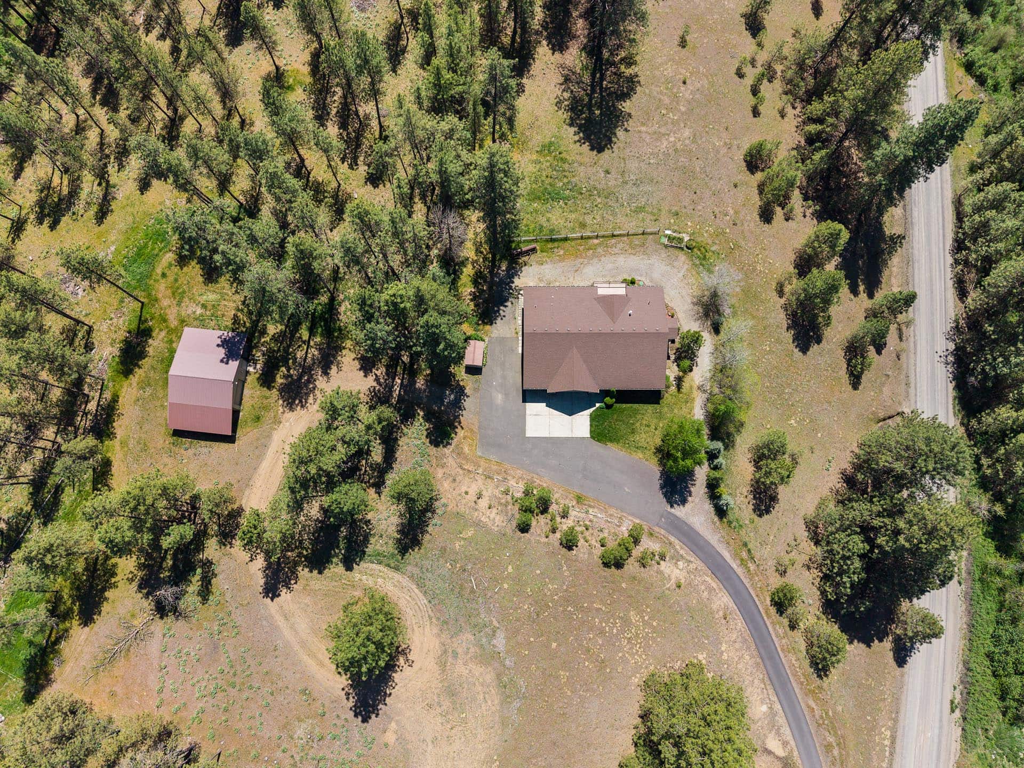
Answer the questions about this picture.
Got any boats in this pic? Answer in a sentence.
No, there's no boat here.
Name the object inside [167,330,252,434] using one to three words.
barn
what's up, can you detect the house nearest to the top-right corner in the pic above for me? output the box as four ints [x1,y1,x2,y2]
[522,275,676,394]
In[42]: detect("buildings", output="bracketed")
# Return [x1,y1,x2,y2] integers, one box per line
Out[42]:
[167,330,252,434]
[465,341,485,369]
[522,275,676,394]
